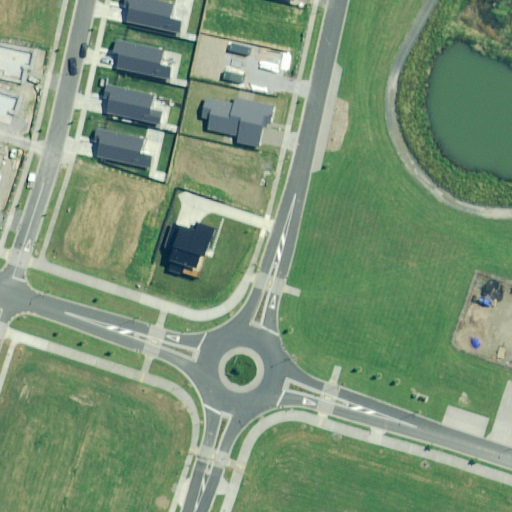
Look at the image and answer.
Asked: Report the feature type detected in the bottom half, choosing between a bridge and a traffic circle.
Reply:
traffic circle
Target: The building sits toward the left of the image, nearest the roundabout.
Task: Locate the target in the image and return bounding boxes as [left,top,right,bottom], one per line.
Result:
[166,221,214,278]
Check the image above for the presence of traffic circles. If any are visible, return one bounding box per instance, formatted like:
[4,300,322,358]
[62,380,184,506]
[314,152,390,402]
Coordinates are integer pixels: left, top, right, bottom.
[132,262,349,474]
